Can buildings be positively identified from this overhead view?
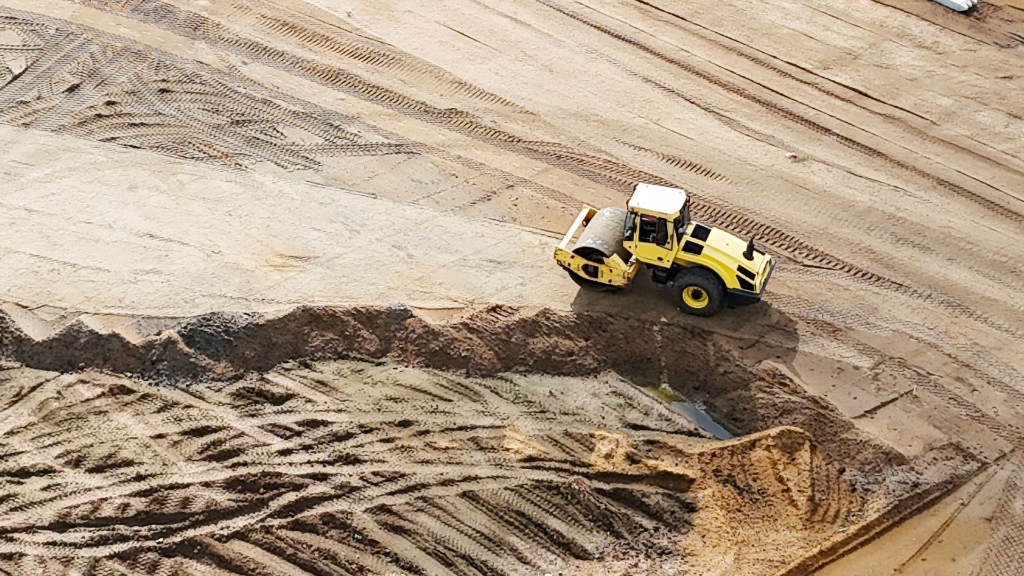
No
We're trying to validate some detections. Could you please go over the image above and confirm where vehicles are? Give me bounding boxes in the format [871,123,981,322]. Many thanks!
[553,180,776,318]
